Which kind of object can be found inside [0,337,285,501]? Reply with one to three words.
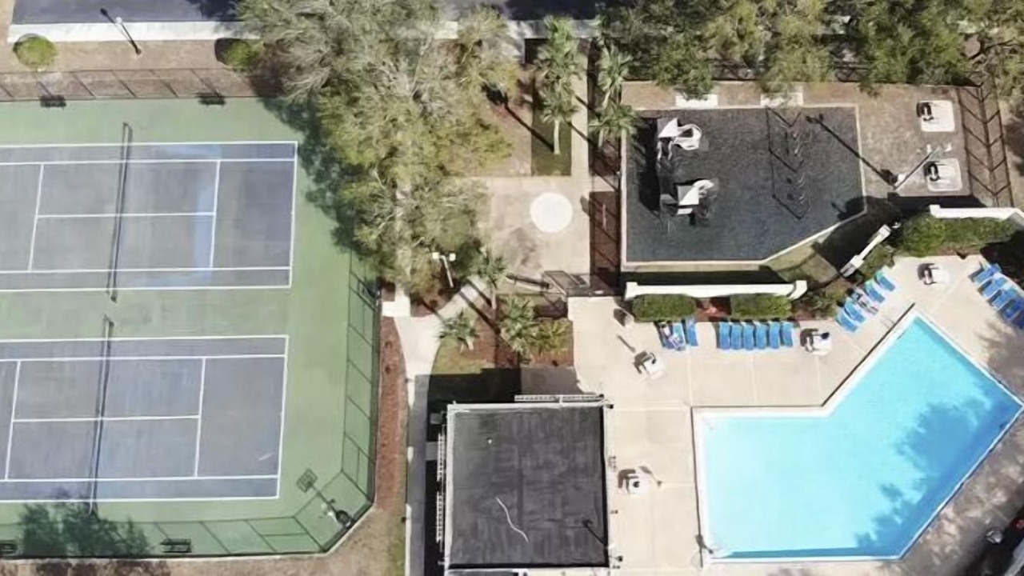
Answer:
tennis court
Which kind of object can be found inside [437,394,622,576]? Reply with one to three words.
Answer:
building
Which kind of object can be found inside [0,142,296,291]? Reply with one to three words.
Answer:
tennis court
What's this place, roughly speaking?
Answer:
sports ground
